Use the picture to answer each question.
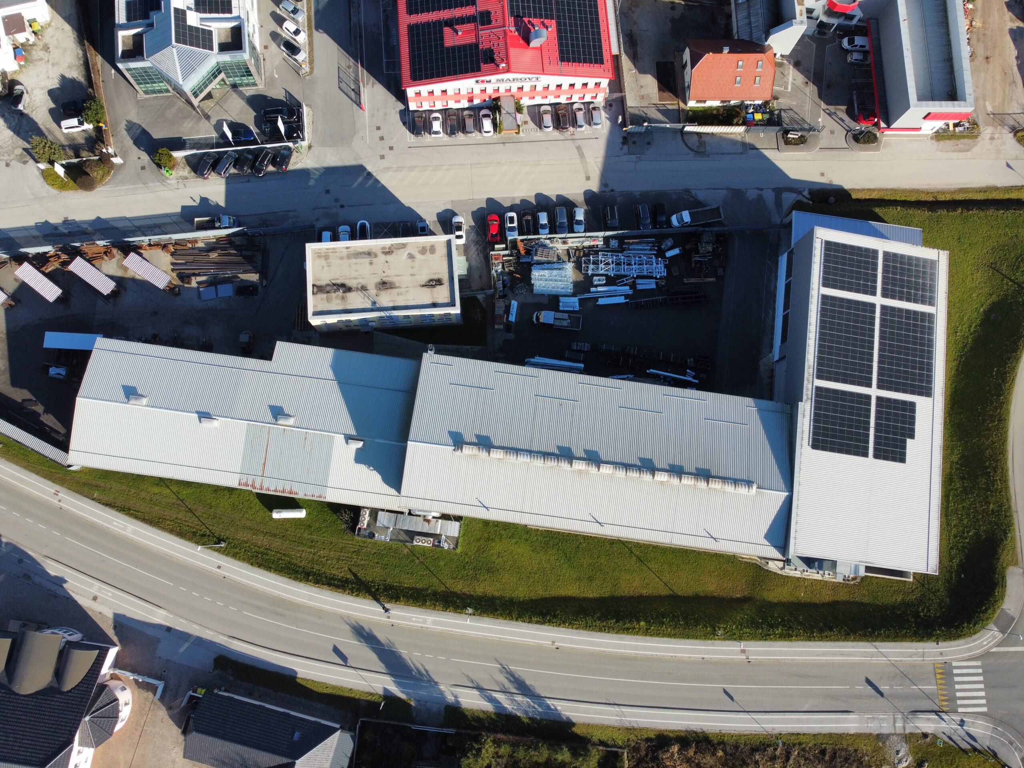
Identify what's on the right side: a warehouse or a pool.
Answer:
warehouse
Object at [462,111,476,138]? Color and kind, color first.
gray car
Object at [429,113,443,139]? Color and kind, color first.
white car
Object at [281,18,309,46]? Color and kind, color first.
white car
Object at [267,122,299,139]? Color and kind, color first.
black car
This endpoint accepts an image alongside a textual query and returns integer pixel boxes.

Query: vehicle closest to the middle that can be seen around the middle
[532,310,582,330]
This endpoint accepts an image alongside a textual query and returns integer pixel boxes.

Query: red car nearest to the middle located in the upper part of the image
[486,215,501,243]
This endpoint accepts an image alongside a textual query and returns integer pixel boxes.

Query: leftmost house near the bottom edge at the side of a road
[0,627,133,768]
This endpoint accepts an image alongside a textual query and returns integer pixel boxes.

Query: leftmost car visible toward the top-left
[10,85,29,112]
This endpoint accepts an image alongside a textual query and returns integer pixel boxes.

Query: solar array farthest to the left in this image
[126,0,149,21]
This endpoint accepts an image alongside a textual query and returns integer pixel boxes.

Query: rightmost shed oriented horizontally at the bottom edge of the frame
[182,689,342,768]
